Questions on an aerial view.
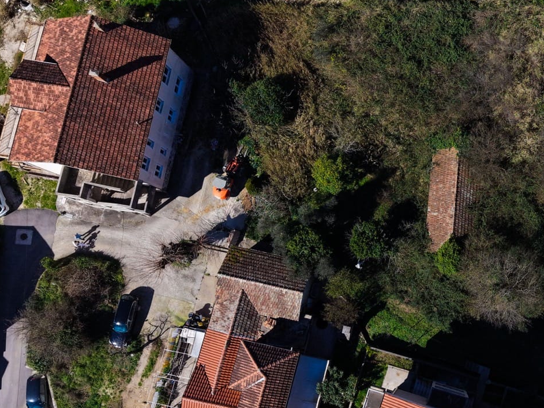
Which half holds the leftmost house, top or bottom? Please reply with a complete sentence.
The leftmost house is in the top half of the image.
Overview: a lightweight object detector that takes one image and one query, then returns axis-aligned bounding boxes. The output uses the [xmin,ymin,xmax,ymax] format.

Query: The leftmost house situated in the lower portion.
[181,244,310,408]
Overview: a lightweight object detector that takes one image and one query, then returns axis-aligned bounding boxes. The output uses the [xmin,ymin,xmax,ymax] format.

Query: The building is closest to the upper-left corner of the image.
[0,14,190,219]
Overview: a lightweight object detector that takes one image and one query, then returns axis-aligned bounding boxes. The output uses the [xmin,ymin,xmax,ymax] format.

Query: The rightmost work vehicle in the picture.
[207,158,243,201]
